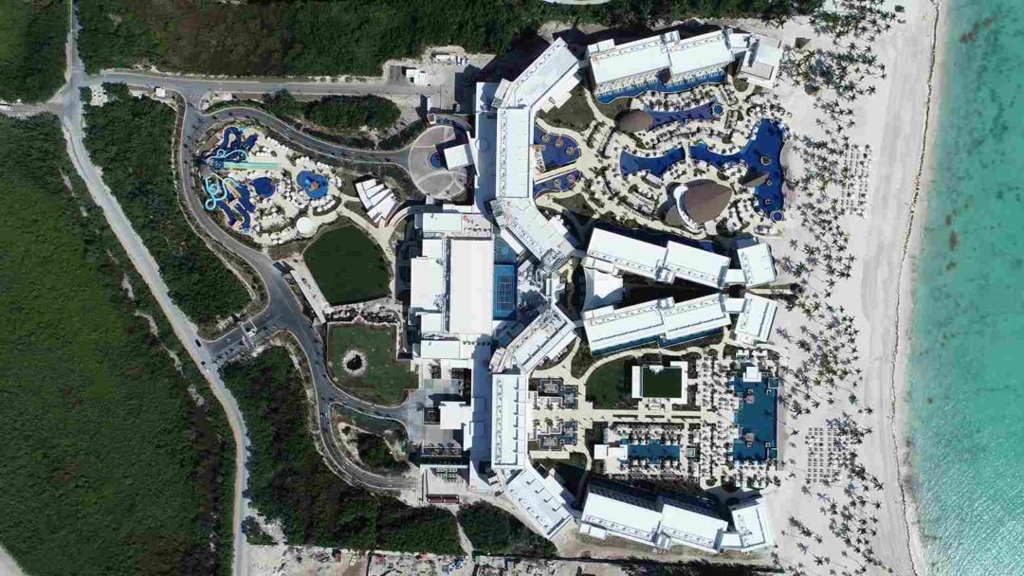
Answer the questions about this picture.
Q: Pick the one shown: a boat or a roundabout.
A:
roundabout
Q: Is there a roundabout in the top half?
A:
Yes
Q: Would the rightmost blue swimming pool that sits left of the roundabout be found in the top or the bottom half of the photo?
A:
top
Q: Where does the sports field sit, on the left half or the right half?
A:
left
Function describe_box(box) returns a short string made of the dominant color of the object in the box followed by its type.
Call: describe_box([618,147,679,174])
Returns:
blue swimming pool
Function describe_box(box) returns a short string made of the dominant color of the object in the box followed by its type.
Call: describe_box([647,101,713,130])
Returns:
blue swimming pool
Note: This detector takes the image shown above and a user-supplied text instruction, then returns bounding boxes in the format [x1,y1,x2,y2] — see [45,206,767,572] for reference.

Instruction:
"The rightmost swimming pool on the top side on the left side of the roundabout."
[295,169,329,198]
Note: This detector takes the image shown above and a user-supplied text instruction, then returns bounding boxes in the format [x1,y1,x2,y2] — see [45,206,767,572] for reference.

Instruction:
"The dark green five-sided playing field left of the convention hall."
[302,226,391,306]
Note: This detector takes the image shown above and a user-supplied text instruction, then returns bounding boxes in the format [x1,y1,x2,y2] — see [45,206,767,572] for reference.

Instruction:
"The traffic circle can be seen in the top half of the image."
[407,126,478,198]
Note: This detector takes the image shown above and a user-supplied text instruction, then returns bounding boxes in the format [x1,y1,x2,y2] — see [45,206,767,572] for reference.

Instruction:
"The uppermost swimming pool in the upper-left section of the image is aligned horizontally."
[214,149,250,161]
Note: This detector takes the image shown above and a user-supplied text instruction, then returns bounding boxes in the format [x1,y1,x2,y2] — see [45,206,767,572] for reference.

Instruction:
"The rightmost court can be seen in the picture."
[494,265,518,321]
